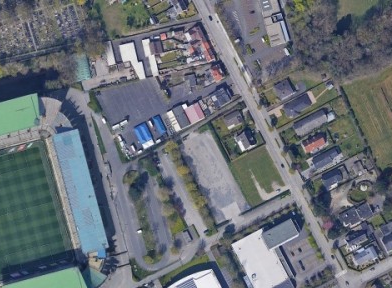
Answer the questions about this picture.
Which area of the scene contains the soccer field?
bottom left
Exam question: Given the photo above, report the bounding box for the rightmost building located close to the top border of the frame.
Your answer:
[257,0,290,48]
